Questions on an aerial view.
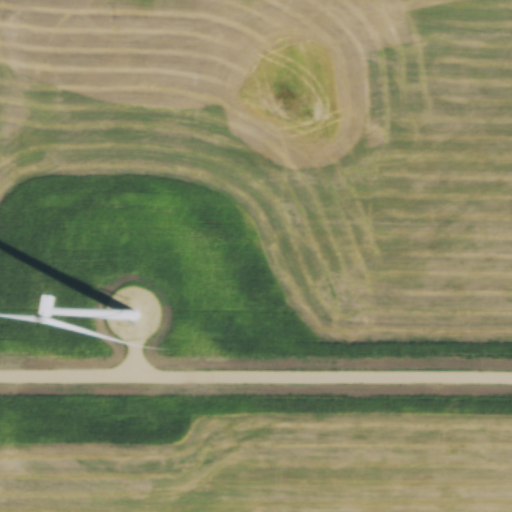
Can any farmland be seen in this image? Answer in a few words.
Yes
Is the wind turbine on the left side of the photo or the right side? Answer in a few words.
left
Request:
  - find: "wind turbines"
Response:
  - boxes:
[0,294,166,350]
